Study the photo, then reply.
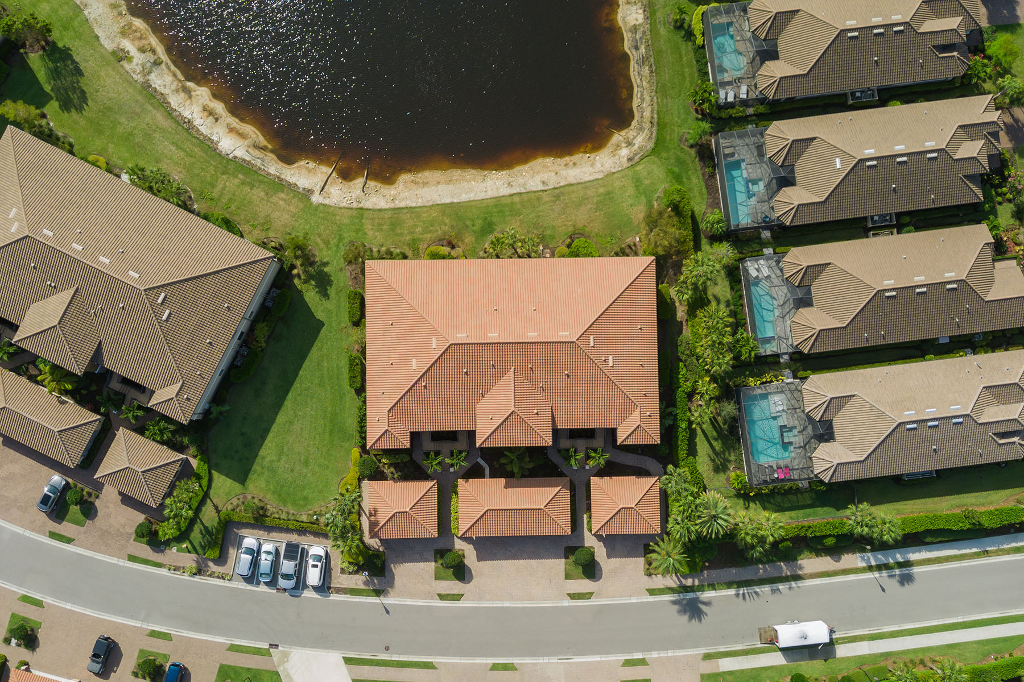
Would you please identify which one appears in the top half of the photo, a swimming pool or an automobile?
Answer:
swimming pool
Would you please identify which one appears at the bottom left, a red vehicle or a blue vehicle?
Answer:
blue vehicle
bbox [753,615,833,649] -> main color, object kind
white trailer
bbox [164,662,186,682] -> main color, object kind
blue car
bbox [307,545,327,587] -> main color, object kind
white car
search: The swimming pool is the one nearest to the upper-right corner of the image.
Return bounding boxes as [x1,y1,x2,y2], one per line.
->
[710,20,748,78]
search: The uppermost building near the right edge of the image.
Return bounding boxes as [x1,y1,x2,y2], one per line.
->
[748,0,991,99]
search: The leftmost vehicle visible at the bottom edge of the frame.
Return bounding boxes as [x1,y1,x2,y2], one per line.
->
[87,633,115,674]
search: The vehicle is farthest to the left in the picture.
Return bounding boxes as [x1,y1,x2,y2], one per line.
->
[36,474,67,514]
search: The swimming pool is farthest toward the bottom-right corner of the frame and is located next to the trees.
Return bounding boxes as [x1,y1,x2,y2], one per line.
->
[744,392,799,464]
